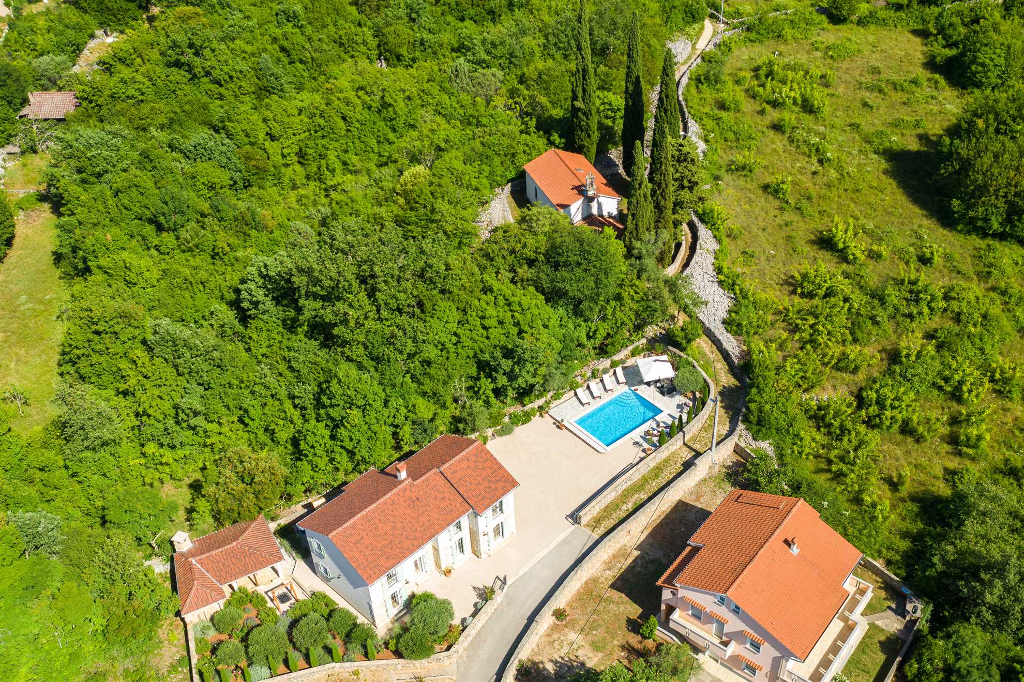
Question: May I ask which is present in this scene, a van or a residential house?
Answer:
residential house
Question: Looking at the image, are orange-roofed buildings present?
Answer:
Yes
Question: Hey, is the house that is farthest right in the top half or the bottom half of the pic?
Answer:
bottom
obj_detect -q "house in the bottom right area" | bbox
[653,490,879,682]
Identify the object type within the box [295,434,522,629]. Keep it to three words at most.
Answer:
house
